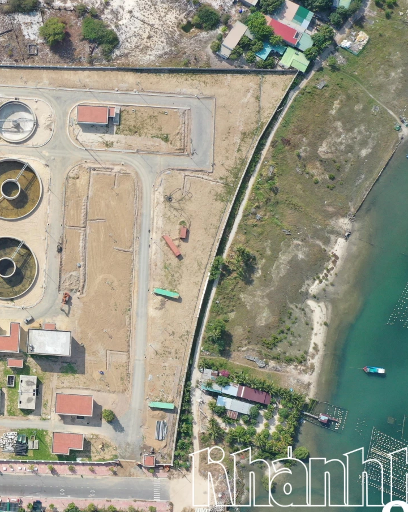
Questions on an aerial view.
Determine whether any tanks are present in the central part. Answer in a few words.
No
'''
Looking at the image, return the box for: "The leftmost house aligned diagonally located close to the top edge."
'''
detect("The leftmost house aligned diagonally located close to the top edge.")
[216,21,248,60]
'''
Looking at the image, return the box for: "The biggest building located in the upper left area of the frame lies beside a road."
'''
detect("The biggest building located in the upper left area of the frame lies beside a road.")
[76,106,108,126]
